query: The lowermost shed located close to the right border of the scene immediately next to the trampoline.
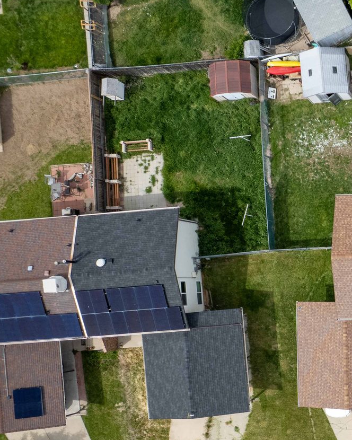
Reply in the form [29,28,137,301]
[300,47,352,105]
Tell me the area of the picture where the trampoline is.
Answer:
top right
